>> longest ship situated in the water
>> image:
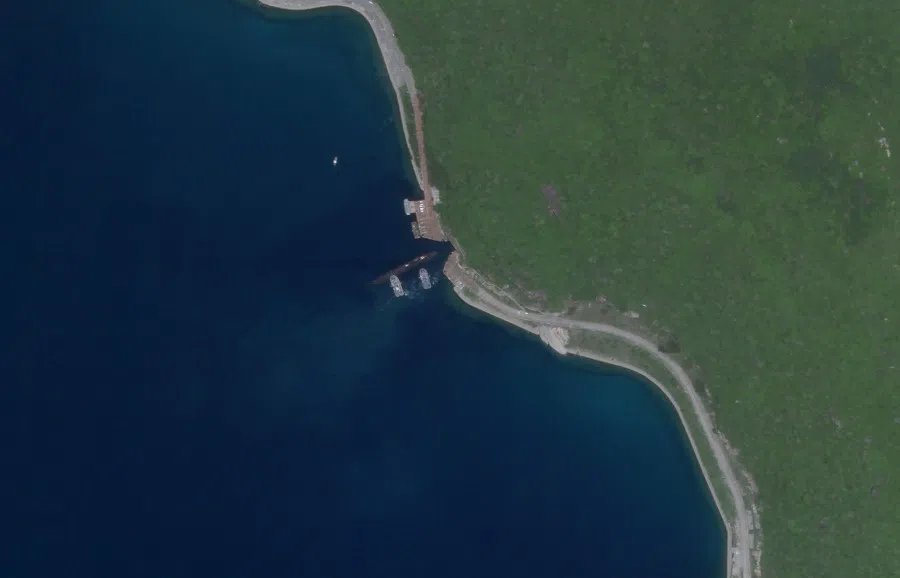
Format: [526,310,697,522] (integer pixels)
[374,252,436,282]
